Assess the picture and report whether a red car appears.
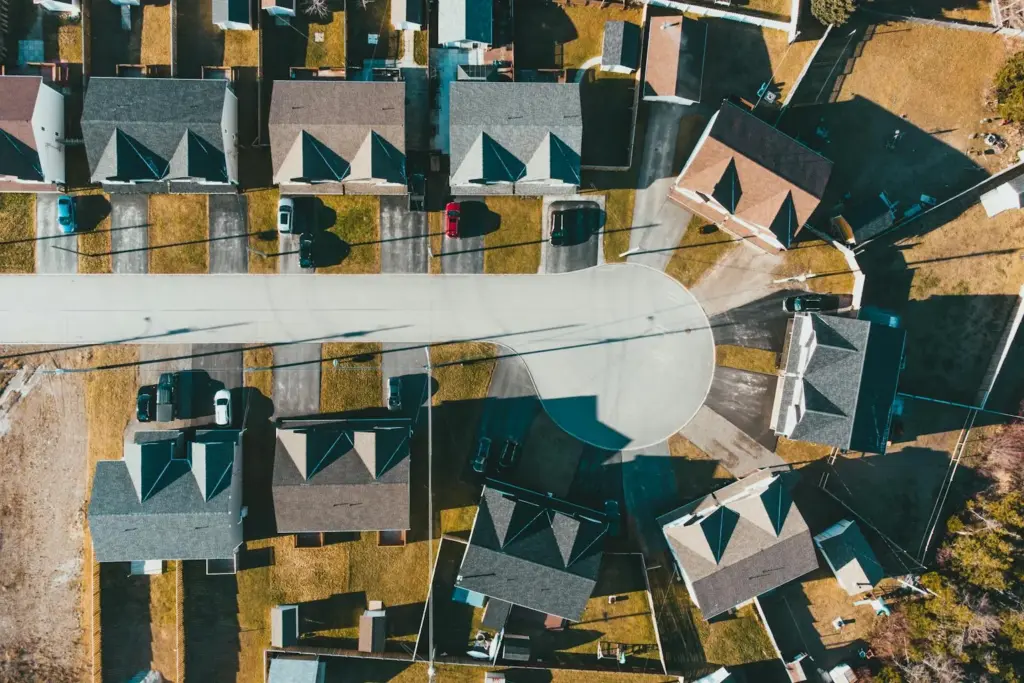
Yes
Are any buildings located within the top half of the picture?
Yes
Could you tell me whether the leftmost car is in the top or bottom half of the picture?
top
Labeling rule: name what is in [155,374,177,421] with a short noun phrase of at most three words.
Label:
truck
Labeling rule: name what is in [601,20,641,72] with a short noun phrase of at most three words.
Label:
shed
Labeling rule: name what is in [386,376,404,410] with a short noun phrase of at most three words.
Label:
car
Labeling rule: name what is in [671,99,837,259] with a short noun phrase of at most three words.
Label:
house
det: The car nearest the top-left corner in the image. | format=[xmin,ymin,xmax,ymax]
[56,196,77,232]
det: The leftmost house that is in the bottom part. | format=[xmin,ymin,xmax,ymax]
[88,428,246,561]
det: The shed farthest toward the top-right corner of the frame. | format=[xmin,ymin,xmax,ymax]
[980,173,1024,220]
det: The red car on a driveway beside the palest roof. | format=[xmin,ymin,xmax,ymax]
[444,203,462,238]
